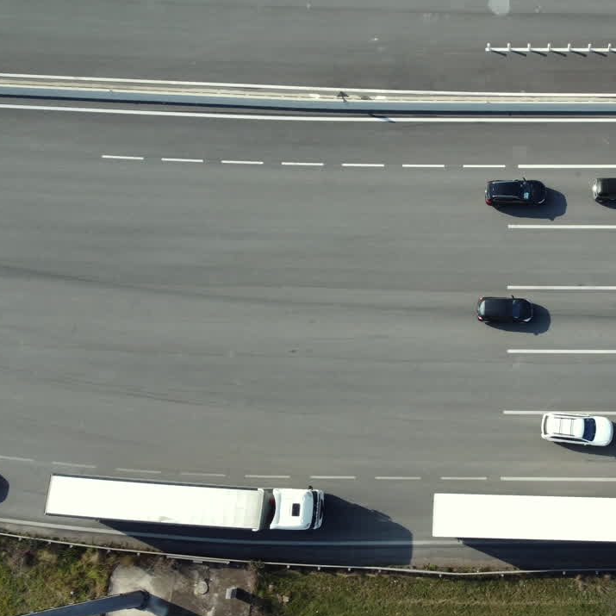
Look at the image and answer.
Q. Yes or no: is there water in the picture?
No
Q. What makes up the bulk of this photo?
paved ground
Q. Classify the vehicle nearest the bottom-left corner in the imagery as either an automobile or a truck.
truck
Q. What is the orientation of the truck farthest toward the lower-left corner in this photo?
from side to side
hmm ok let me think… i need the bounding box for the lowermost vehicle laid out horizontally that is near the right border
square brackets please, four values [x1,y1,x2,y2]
[431,493,616,543]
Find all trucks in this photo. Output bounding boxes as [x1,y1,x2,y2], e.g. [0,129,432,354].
[431,493,616,543]
[44,474,327,535]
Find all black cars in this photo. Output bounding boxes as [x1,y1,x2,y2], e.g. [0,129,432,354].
[477,294,534,325]
[484,176,546,208]
[592,179,616,206]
